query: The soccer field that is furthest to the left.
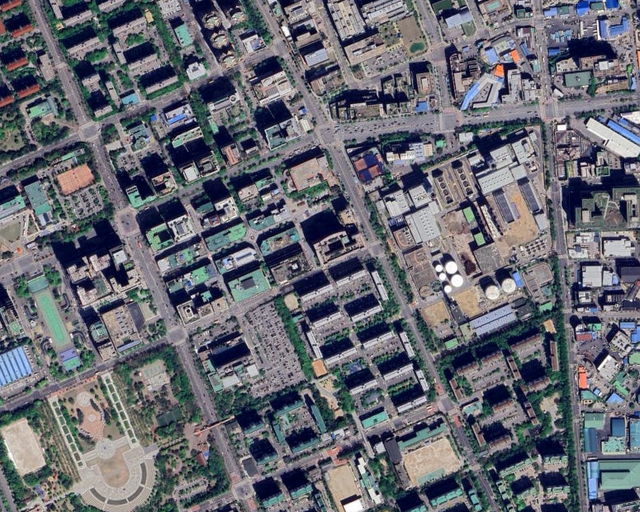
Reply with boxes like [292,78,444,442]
[1,418,42,477]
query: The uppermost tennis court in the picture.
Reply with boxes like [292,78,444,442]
[58,164,94,195]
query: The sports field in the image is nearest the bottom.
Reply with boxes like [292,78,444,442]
[326,465,362,512]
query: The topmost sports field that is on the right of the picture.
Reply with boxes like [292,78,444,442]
[404,437,461,484]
